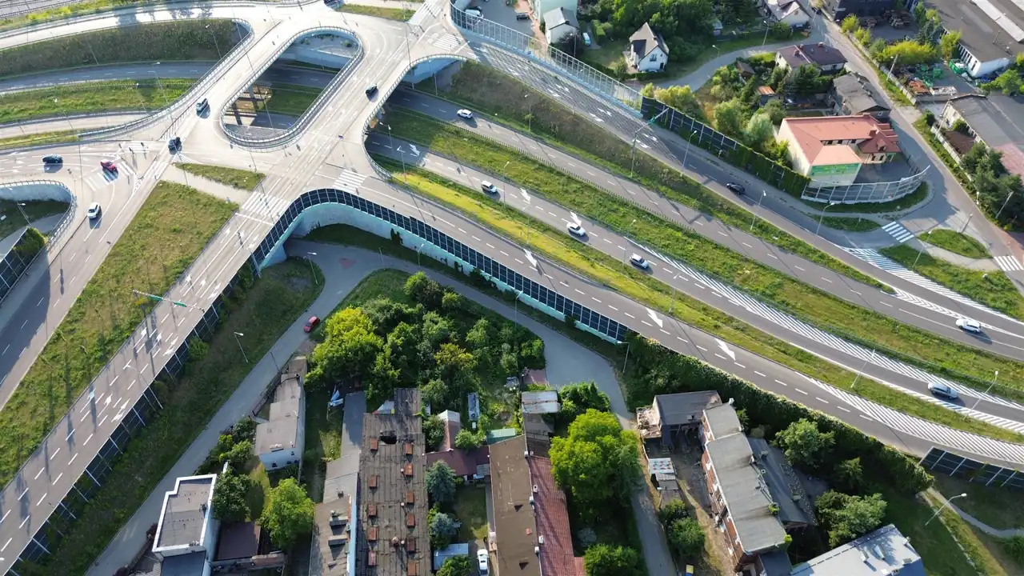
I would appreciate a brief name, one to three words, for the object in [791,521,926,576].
building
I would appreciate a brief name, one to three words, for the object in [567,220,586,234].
car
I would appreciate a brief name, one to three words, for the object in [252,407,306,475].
house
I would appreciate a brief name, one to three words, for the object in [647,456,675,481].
shed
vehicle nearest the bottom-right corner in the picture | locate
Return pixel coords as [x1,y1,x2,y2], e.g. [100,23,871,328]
[930,381,958,398]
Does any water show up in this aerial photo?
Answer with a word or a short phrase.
No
